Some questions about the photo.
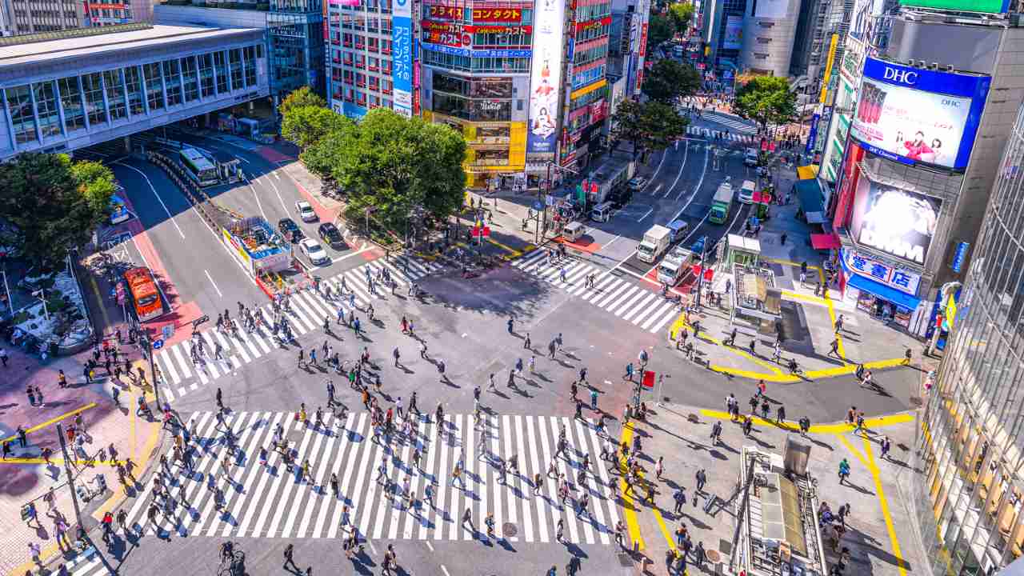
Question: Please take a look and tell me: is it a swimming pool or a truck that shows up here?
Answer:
truck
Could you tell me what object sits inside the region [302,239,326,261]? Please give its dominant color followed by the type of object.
white car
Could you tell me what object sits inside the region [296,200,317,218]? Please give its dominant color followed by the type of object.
white car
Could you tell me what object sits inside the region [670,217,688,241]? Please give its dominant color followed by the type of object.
blue vehicle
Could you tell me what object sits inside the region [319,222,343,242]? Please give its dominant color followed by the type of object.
black car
